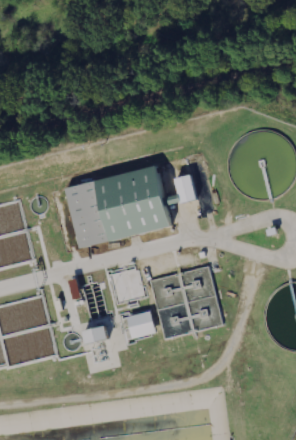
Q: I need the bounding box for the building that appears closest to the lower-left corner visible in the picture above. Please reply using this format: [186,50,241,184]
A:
[81,325,108,346]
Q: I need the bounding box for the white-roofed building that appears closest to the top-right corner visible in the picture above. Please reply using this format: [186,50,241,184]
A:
[174,174,198,204]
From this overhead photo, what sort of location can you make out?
industrial area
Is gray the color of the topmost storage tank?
No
